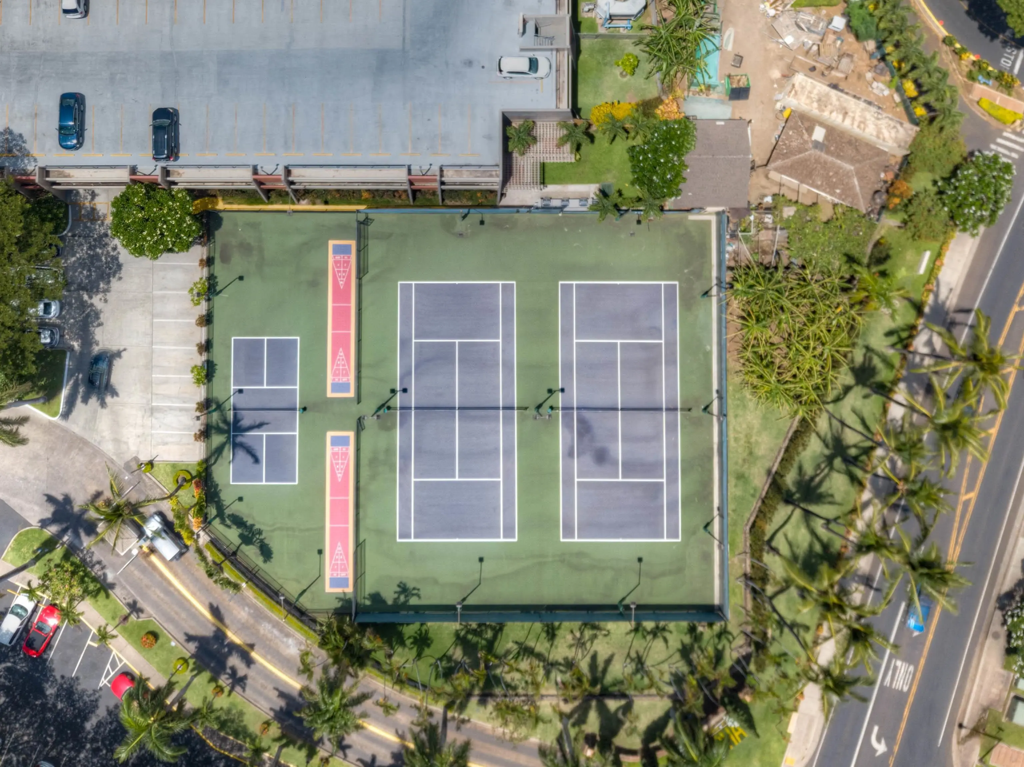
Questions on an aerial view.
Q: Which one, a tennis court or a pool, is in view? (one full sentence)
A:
I can see a tennis court in this picture.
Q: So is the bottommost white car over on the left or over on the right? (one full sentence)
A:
You can find the bottommost white car on the left side of the picture.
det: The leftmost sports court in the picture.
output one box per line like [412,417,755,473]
[230,337,300,484]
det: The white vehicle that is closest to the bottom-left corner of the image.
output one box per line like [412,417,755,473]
[0,594,37,647]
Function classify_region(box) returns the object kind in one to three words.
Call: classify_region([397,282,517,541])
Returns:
tennis court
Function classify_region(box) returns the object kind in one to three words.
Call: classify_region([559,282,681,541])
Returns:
tennis court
